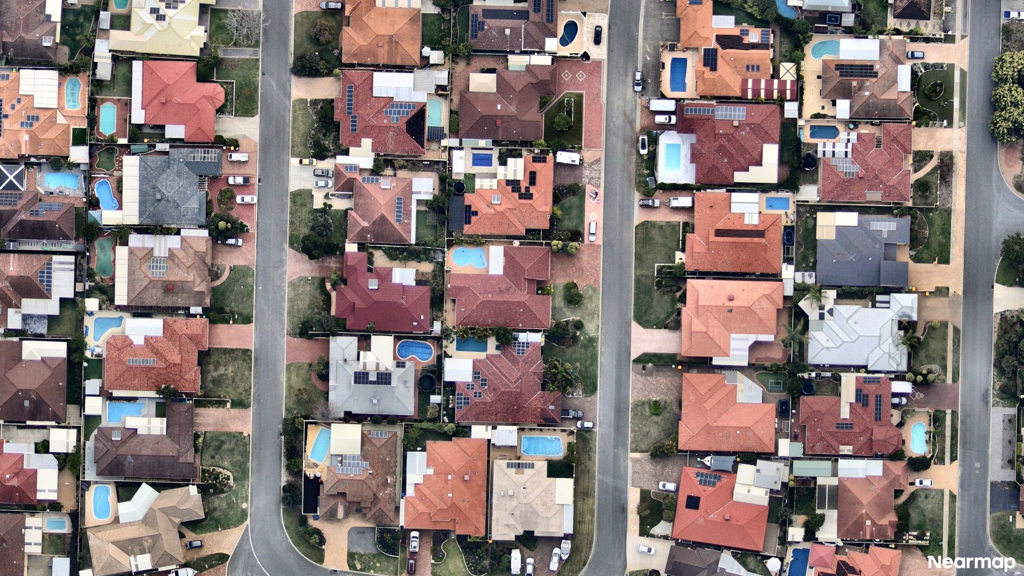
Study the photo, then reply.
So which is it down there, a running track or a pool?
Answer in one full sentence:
The image shows a pool.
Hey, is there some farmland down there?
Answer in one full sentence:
No, no farmland is visible.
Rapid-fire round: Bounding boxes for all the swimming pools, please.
[471,152,494,168]
[559,19,579,48]
[93,178,120,211]
[91,314,125,343]
[63,76,82,111]
[786,547,810,576]
[107,402,147,424]
[670,57,688,92]
[910,422,928,455]
[663,140,684,172]
[94,236,115,279]
[452,247,487,269]
[44,516,68,531]
[112,0,129,11]
[396,339,435,363]
[773,0,799,20]
[98,101,118,136]
[455,336,489,353]
[809,37,840,60]
[806,124,840,140]
[520,434,564,457]
[308,426,331,464]
[92,483,112,521]
[43,172,80,189]
[427,97,444,130]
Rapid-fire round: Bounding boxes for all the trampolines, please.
[784,230,794,245]
[803,152,818,169]
[827,14,840,24]
[779,399,790,416]
[419,373,436,391]
[802,380,815,393]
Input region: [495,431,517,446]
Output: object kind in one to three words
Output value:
shed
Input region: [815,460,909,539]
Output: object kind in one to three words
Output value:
house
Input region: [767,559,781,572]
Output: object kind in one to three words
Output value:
umbrella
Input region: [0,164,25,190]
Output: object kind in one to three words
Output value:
gazebo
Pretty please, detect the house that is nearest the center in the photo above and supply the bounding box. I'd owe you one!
[449,245,551,329]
